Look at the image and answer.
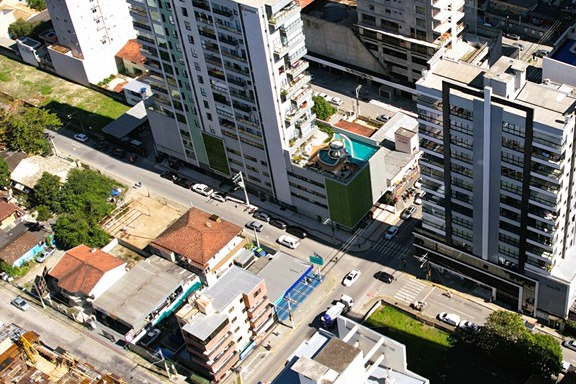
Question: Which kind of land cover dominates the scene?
buildings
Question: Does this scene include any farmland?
No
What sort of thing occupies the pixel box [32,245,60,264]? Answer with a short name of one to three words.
vehicle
